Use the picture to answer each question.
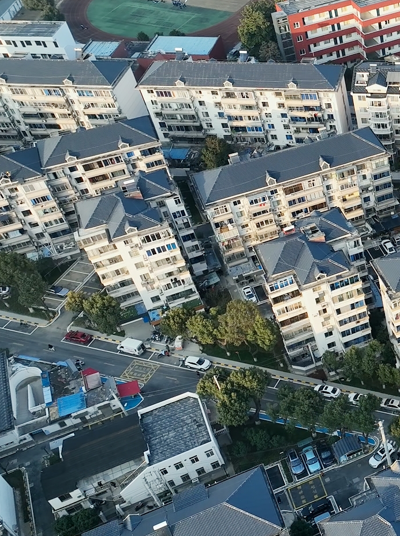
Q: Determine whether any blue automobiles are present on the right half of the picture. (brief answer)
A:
Yes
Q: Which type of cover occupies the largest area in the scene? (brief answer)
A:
buildings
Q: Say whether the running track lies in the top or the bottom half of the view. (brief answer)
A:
top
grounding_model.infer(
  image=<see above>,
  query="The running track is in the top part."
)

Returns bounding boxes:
[62,0,250,65]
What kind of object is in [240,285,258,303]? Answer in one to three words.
car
